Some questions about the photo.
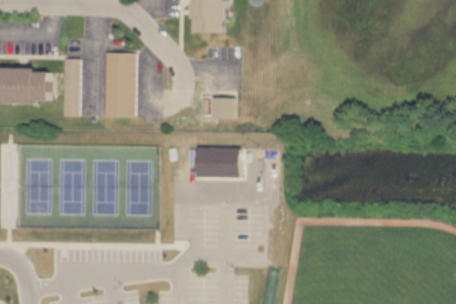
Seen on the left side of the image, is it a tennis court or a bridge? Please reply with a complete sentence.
It is a tennis court that can be seen on the left side of the image.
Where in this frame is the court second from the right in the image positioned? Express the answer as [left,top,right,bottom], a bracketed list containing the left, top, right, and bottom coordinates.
[92,159,120,215]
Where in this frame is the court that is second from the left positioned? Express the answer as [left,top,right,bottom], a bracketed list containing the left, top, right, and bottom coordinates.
[60,158,86,214]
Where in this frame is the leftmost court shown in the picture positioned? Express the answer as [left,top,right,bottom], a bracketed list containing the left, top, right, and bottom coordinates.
[26,158,52,214]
